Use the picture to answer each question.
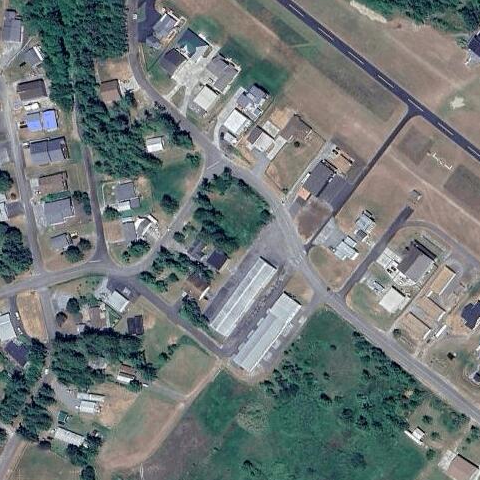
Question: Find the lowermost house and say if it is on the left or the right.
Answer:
right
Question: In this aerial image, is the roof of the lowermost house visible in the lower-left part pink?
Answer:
No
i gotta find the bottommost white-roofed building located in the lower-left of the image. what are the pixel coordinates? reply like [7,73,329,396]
[55,426,86,448]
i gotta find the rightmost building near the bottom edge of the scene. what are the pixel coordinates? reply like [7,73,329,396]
[447,454,478,480]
